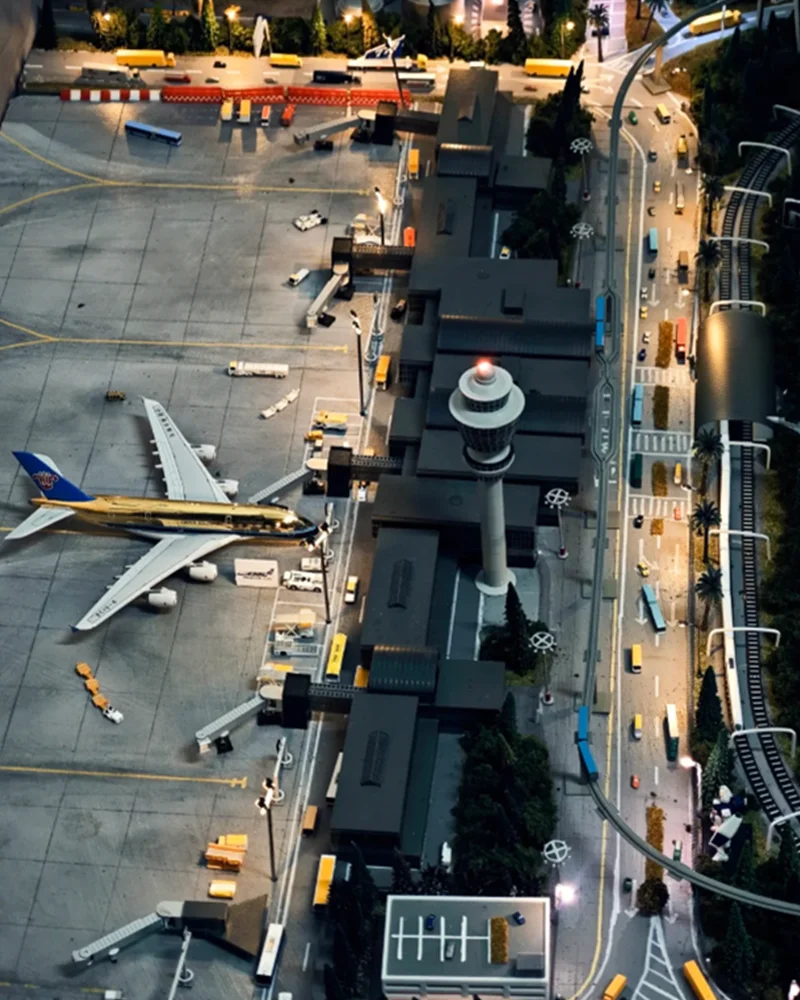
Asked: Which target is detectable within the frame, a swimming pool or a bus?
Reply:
bus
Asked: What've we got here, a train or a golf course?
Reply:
train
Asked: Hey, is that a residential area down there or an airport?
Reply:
airport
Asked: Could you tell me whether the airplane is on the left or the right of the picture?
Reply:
left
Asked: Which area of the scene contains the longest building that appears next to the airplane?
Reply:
center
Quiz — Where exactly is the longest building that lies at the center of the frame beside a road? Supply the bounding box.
[333,69,594,879]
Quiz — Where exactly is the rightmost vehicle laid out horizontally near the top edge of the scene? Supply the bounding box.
[688,11,742,37]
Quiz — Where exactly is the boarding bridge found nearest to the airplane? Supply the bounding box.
[242,446,406,509]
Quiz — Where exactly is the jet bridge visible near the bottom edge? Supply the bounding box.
[64,895,269,974]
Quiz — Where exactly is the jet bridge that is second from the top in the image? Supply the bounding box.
[302,239,414,332]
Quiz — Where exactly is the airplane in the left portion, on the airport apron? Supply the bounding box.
[6,394,317,627]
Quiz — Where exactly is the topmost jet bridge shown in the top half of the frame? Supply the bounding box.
[289,102,444,149]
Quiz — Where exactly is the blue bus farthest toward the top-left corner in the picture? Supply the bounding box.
[125,123,185,144]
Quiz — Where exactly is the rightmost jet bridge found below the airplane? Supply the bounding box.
[189,671,362,756]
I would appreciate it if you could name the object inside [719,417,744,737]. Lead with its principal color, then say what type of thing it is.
white train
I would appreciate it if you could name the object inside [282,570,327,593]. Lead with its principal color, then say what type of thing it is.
white truck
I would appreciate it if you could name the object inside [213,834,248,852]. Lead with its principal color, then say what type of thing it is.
yellow vehicle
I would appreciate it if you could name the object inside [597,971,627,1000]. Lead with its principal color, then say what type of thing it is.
orange bus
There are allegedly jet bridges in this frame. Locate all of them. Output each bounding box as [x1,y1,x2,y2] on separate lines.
[302,239,414,332]
[189,671,362,756]
[242,446,406,509]
[289,102,444,149]
[64,895,269,974]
